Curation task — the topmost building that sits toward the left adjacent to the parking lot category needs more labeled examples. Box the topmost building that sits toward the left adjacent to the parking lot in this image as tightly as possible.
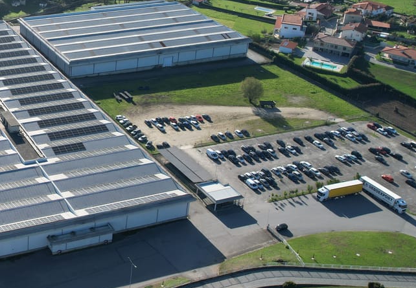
[18,0,252,81]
